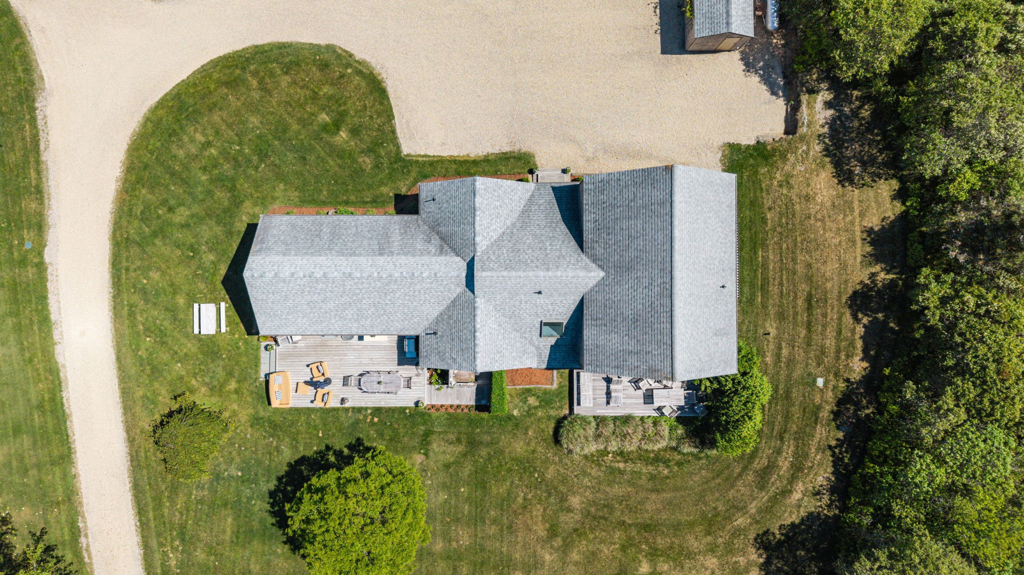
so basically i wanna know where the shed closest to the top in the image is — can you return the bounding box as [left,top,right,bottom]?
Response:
[686,0,755,51]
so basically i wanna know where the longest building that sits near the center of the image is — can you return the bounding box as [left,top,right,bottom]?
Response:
[242,164,740,381]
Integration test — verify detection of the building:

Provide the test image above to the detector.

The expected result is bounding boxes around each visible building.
[686,0,755,51]
[242,164,740,381]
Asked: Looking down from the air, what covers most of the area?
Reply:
grass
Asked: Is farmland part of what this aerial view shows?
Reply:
No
